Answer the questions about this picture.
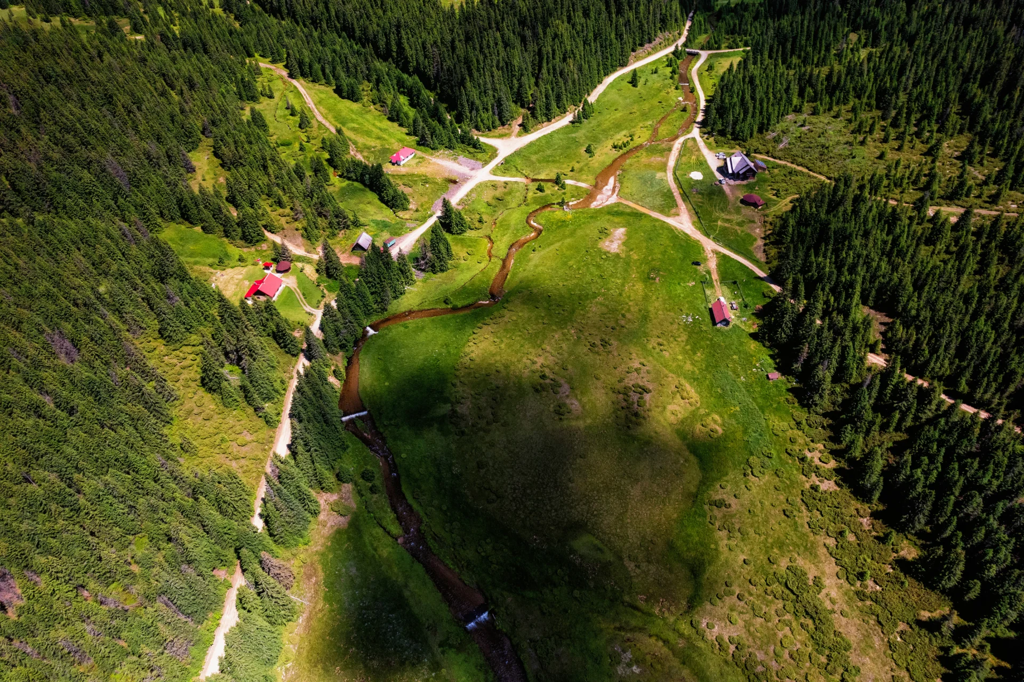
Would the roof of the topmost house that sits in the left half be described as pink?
Yes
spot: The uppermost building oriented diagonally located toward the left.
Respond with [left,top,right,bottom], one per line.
[388,143,417,165]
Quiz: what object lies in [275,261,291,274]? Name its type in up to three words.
gazebo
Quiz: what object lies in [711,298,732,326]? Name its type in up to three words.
building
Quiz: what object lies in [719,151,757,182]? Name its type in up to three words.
building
